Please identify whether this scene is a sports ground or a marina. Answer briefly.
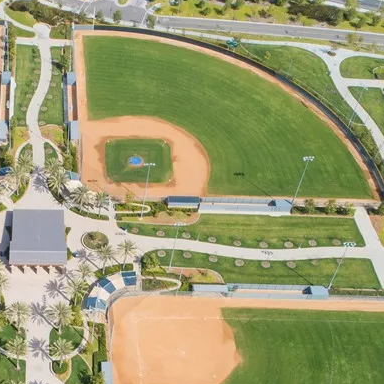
sports ground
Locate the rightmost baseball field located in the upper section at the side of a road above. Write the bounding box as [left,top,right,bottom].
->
[73,30,384,202]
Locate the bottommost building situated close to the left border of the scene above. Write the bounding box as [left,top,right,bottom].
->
[9,210,67,278]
